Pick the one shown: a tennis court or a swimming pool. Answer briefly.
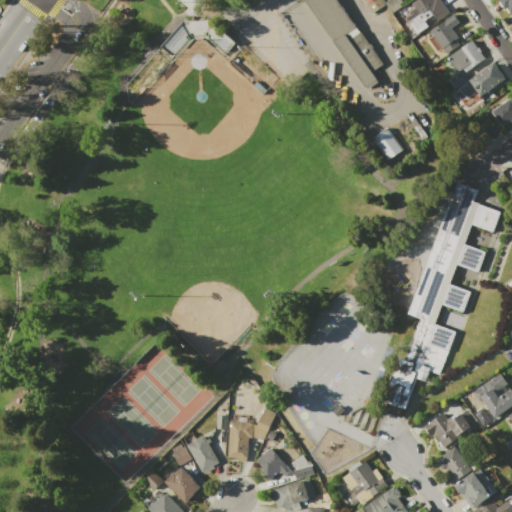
tennis court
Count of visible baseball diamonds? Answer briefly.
2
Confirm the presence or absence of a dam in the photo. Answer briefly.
No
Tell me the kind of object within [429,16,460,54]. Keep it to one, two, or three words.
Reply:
house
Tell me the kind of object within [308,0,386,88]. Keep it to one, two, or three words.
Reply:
building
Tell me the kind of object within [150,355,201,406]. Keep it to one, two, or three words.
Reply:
tennis court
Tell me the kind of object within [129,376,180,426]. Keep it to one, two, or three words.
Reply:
tennis court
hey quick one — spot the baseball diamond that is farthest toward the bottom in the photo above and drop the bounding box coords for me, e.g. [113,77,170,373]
[173,282,255,362]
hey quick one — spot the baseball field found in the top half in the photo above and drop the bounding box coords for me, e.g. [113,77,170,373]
[128,39,346,292]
